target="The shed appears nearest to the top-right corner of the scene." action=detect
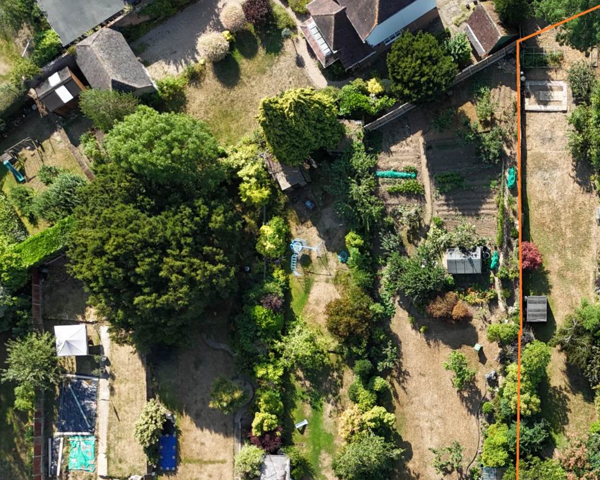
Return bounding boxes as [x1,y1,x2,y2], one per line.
[465,2,517,62]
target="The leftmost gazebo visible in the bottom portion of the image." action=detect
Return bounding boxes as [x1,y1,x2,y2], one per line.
[54,325,101,357]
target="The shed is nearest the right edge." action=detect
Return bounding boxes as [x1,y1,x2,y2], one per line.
[528,297,547,323]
